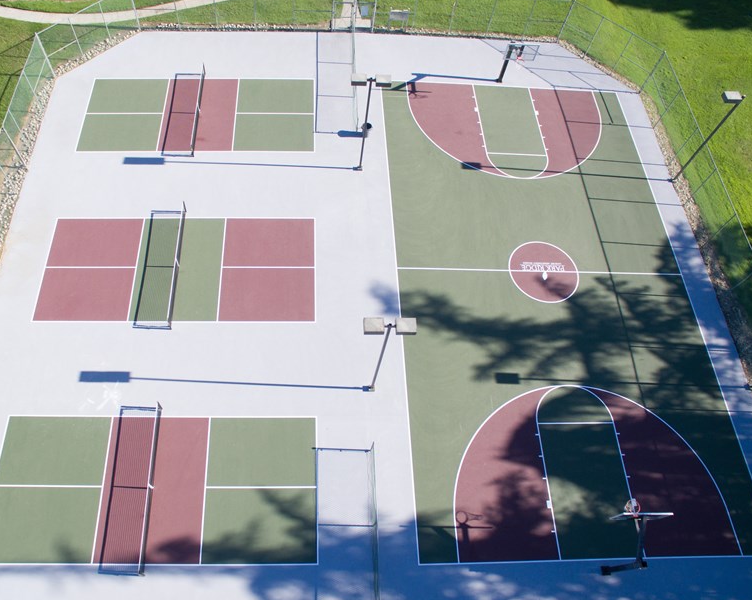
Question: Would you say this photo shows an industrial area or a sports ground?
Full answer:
The area seen from above is a sports ground.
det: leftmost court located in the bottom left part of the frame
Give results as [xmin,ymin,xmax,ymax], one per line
[0,415,318,565]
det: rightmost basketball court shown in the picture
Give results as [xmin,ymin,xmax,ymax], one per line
[381,81,752,565]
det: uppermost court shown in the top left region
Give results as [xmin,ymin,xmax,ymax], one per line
[76,78,315,152]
